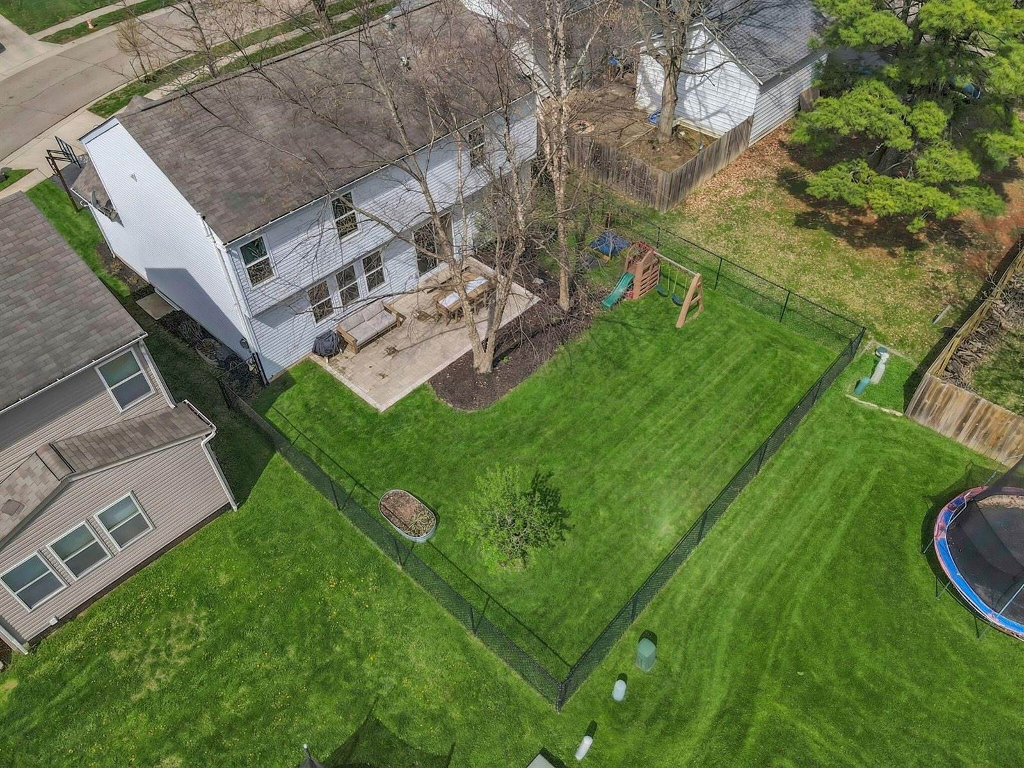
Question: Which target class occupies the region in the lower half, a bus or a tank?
tank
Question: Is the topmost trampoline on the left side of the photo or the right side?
right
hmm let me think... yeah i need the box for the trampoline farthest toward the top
[923,451,1024,646]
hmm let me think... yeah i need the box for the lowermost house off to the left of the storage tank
[0,197,243,665]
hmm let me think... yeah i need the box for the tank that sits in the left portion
[377,489,439,551]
